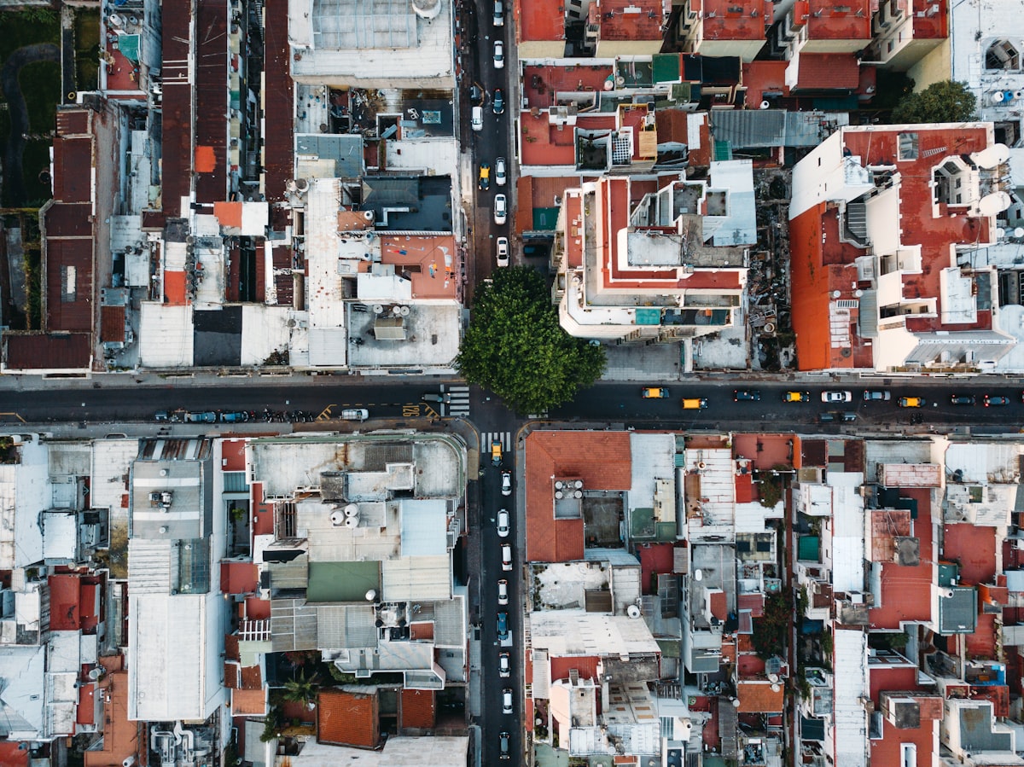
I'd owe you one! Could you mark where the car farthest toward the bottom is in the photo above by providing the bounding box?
[498,730,510,758]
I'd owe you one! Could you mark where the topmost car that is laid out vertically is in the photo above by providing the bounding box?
[492,1,504,27]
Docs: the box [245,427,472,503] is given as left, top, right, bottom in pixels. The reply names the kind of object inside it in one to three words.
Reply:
building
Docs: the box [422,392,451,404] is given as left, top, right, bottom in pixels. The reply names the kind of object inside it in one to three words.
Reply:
vehicle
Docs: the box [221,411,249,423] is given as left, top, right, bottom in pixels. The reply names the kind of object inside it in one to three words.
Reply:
vehicle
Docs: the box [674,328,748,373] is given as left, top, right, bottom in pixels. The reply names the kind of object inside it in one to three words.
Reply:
house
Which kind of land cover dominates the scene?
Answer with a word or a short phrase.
buildings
